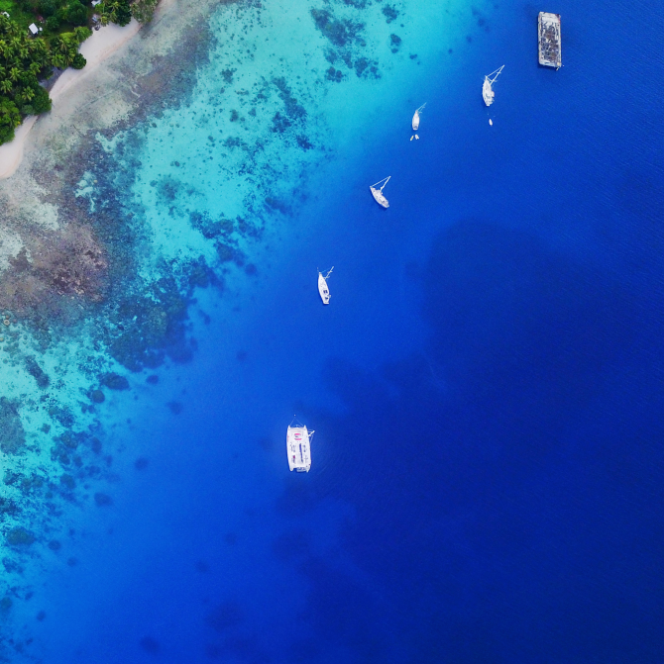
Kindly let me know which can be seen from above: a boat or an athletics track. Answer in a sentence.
It is a boat that can be seen here.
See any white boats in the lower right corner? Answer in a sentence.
No, no white boat can be made out in the lower right corner.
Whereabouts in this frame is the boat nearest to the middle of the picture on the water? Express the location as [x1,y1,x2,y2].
[318,268,332,306]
